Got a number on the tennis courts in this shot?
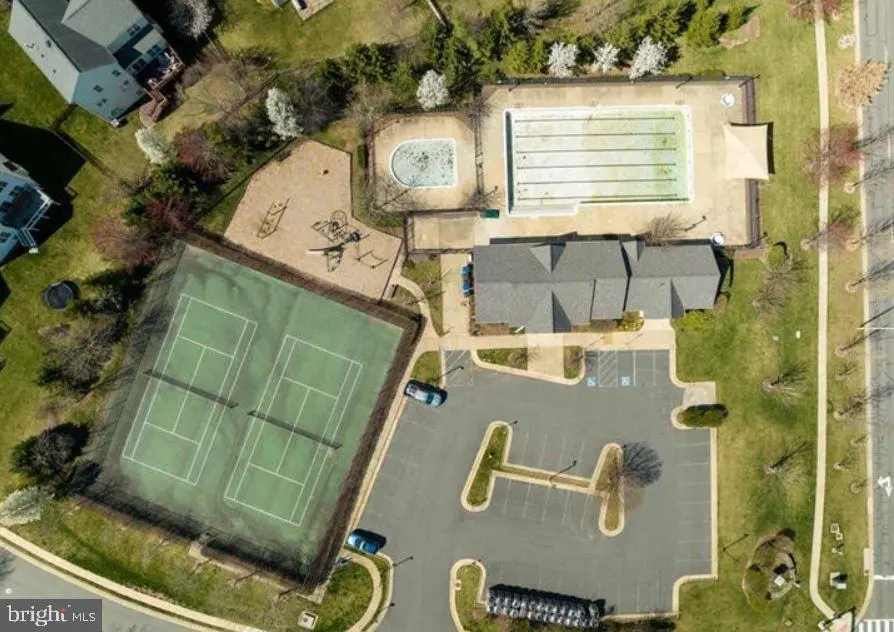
2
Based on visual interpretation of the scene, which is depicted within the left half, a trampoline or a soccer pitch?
trampoline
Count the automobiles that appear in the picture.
2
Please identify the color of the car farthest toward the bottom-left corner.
blue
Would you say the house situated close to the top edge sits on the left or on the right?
left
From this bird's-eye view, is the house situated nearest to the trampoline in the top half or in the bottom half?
top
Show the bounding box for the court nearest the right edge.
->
[190,286,405,590]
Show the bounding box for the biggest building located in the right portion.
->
[472,242,720,333]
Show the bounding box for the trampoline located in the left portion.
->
[43,284,73,310]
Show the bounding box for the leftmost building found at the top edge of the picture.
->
[4,0,192,127]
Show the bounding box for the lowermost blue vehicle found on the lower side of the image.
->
[347,534,379,556]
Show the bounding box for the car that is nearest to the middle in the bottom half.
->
[406,385,442,405]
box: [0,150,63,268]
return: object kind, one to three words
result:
house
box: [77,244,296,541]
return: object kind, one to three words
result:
tennis court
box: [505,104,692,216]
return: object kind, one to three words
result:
swimming pool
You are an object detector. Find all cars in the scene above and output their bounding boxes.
[406,385,442,405]
[347,534,379,556]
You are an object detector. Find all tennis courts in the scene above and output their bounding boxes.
[77,244,296,541]
[190,286,405,590]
